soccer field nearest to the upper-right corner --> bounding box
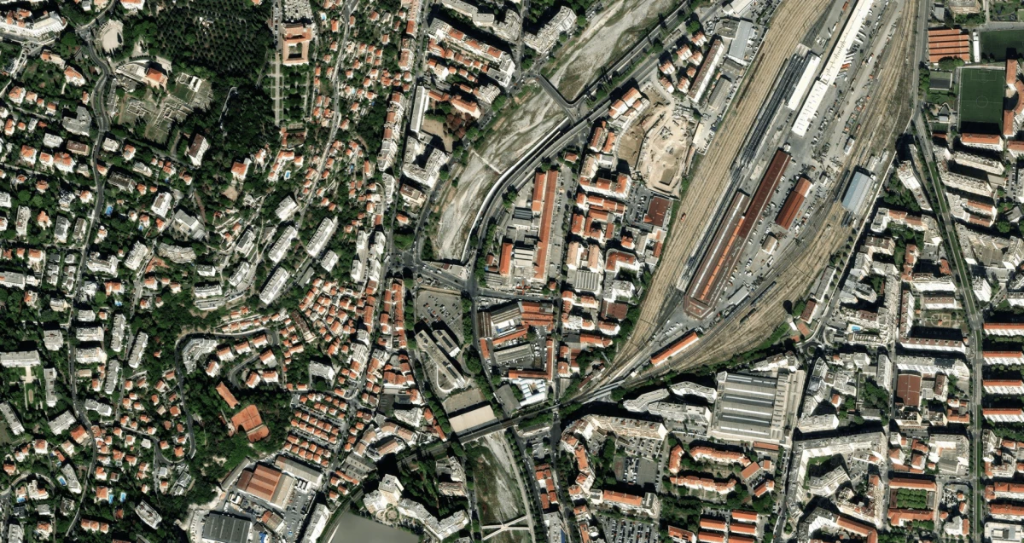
[980,29,1024,62]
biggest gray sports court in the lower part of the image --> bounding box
[636,459,657,487]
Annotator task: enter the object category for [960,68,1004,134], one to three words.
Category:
soccer field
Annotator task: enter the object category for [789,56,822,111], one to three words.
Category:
shed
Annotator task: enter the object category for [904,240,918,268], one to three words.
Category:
building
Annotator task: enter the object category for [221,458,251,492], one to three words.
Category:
house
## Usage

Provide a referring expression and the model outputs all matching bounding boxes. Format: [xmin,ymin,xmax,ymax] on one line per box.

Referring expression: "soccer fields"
[960,68,1004,134]
[980,29,1024,62]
